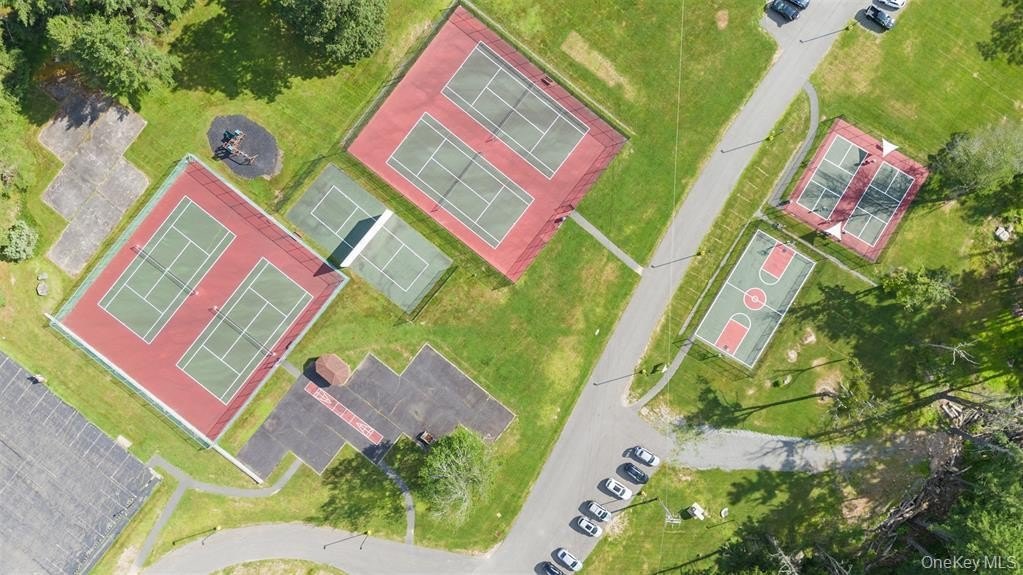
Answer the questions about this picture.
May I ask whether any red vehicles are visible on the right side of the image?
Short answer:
No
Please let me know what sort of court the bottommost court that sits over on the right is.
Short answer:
basketball court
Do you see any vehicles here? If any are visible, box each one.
[604,476,633,500]
[587,499,612,522]
[556,547,583,571]
[877,0,905,9]
[770,0,800,22]
[787,0,812,10]
[633,445,660,468]
[575,515,602,537]
[862,3,896,30]
[539,559,564,575]
[622,461,651,485]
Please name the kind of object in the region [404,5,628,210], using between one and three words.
tennis court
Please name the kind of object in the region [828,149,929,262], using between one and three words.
sports court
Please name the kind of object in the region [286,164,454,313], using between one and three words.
tennis court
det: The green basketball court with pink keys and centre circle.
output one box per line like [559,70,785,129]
[694,230,816,368]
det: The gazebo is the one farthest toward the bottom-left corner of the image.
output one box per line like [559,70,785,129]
[316,352,353,385]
